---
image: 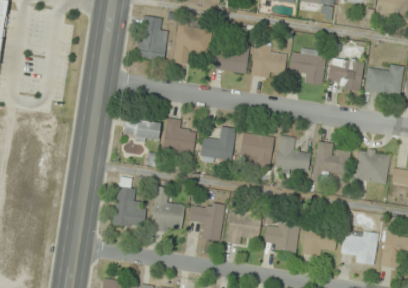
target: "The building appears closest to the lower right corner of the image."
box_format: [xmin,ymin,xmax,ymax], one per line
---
[381,232,408,270]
